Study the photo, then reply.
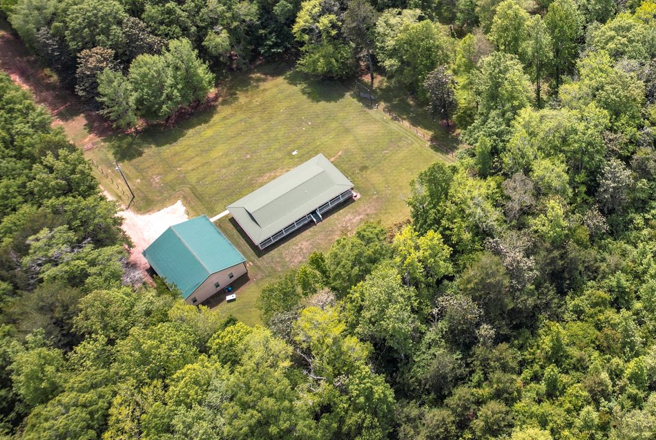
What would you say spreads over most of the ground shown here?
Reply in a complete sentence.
What you mostly see from above here is trees.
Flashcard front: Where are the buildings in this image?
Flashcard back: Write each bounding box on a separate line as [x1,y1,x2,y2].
[144,215,252,310]
[226,153,354,252]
